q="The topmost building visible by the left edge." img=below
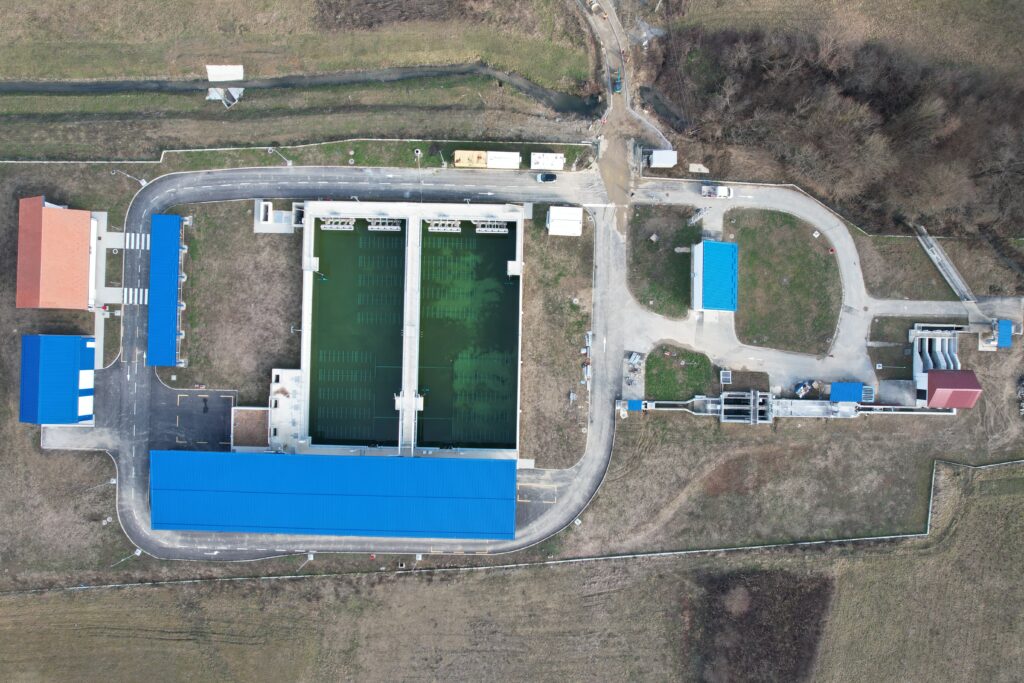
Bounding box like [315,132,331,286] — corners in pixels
[16,196,103,309]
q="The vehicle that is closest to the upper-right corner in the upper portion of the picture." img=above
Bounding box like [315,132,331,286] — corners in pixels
[703,183,734,196]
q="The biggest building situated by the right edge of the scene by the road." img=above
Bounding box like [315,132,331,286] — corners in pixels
[905,323,983,409]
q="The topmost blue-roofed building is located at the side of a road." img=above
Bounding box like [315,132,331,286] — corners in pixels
[675,240,737,319]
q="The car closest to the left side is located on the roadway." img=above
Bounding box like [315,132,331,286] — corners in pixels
[537,171,558,183]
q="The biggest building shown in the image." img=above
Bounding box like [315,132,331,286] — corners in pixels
[150,448,517,541]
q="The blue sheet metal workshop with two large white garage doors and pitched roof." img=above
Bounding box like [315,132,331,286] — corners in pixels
[19,335,96,427]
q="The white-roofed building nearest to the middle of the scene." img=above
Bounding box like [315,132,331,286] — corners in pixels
[546,206,583,239]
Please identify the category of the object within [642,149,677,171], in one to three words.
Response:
shed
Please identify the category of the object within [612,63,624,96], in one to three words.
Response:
vehicle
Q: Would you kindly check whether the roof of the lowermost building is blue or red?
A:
blue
